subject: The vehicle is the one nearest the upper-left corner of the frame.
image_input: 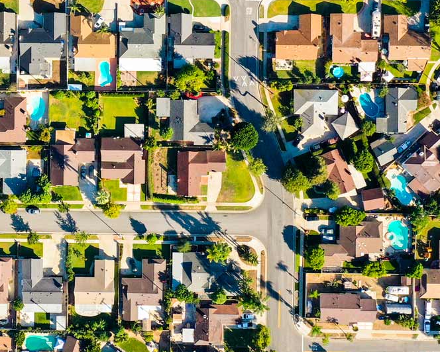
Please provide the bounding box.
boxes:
[93,14,106,31]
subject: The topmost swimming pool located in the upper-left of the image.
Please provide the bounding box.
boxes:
[98,60,113,86]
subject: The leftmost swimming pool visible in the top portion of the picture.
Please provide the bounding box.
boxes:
[31,96,47,122]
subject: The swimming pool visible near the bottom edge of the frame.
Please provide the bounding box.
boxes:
[24,335,55,352]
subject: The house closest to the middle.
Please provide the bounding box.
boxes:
[178,150,227,196]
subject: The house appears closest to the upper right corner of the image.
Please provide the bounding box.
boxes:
[383,15,433,72]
